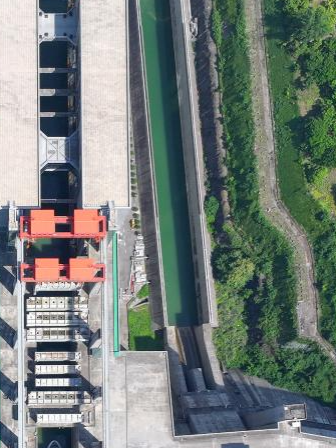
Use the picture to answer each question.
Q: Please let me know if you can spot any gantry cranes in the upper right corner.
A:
No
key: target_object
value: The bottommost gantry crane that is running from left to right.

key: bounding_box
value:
[20,259,106,283]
